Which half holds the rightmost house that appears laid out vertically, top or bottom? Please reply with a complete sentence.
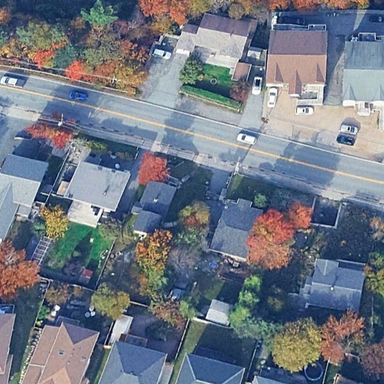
You can find the rightmost house that appears laid out vertically in the top half.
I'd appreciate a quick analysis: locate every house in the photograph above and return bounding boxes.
[266,23,328,106]
[101,333,167,384]
[22,315,99,384]
[286,258,365,313]
[210,198,264,261]
[0,305,16,384]
[177,344,245,384]
[342,32,384,130]
[133,178,181,237]
[176,13,257,69]
[333,375,363,384]
[0,153,49,240]
[65,160,130,225]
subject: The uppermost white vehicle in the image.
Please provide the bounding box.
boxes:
[151,47,174,59]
